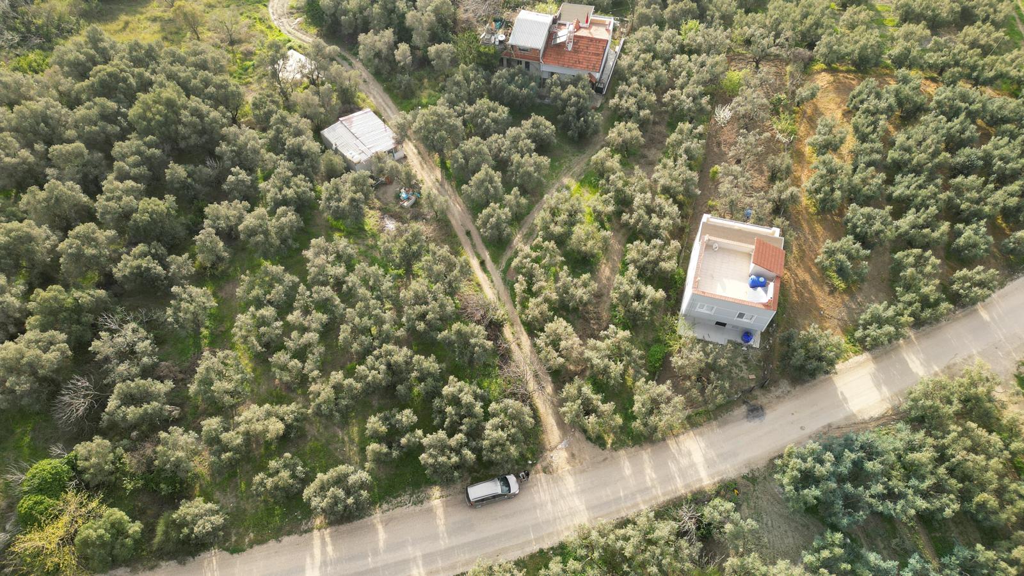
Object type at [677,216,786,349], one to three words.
house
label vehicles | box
[464,471,520,502]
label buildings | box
[500,2,616,97]
[677,216,786,349]
[324,105,402,177]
